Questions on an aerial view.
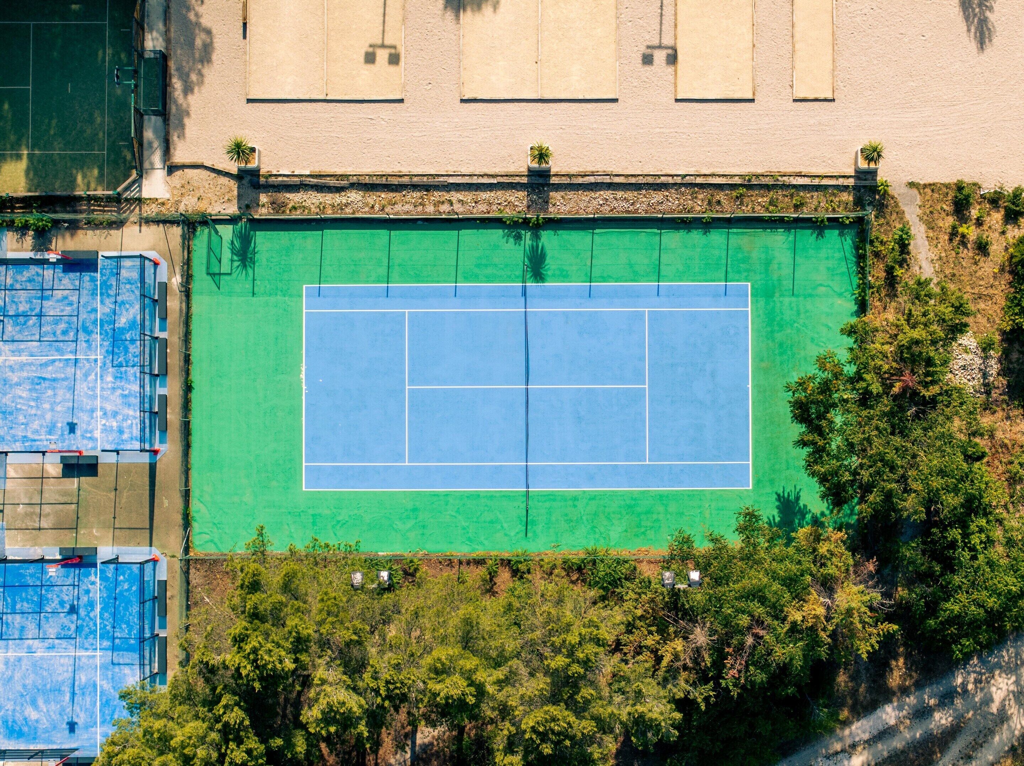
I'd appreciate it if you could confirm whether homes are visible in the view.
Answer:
No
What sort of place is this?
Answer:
sports ground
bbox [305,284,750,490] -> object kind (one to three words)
tennis court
